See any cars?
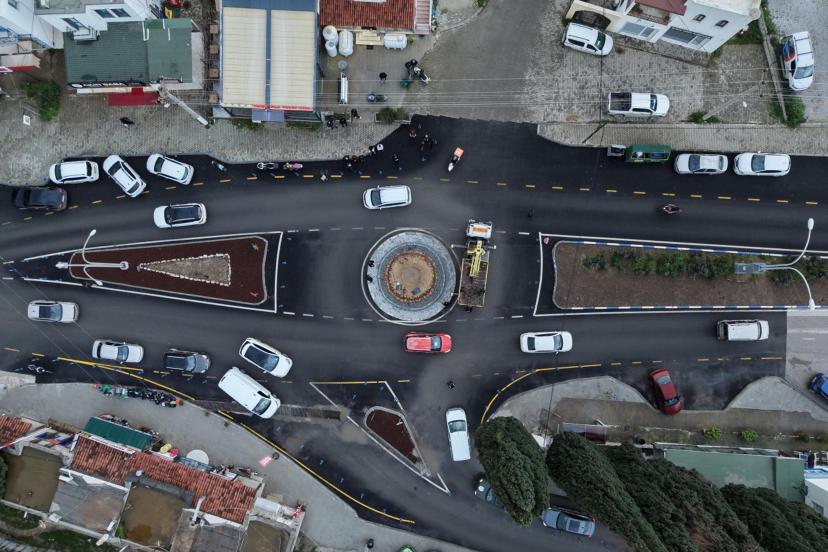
Yes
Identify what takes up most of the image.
paved ground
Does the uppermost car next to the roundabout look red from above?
No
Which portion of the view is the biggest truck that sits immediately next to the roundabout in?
center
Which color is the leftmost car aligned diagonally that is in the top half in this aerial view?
white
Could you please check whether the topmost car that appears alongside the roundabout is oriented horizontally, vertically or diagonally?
horizontally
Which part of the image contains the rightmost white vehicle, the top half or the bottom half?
top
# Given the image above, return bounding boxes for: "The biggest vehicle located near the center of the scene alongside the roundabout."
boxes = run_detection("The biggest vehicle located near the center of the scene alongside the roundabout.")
[453,215,500,310]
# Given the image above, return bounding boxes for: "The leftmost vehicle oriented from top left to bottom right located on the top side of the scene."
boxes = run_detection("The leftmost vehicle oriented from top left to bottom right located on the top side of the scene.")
[104,152,149,201]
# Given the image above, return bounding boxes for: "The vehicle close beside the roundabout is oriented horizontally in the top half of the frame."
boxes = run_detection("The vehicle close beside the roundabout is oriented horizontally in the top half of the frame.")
[361,186,413,210]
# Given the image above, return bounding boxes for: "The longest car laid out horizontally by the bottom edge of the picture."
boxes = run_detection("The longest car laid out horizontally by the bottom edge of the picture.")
[539,504,598,536]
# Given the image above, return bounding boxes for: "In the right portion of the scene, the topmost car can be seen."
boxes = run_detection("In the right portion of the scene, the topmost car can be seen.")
[560,19,614,56]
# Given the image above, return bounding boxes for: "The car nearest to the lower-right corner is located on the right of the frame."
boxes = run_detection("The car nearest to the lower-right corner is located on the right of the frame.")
[801,372,828,404]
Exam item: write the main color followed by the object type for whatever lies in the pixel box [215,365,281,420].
white vehicle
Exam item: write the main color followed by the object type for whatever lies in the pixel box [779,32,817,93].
white vehicle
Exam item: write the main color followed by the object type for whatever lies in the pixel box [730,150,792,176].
white car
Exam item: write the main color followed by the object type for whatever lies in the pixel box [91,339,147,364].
white car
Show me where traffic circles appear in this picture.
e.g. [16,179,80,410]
[367,232,456,320]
